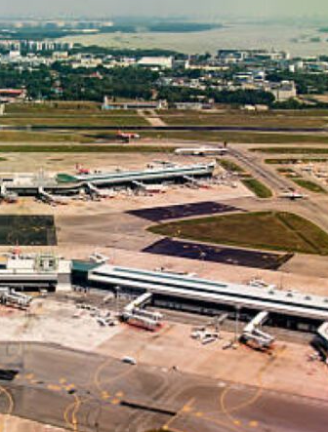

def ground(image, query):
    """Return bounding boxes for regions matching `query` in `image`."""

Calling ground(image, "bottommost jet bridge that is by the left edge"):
[3,285,35,306]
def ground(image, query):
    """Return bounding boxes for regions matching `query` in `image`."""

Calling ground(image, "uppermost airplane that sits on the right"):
[173,140,226,156]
